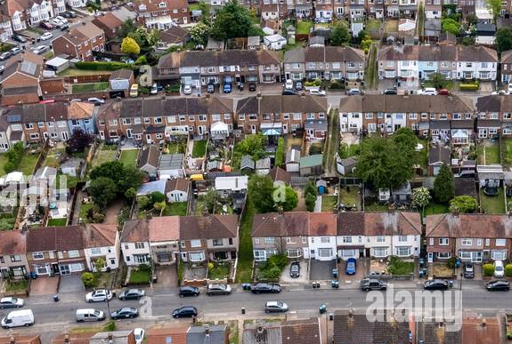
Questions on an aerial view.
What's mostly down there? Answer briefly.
buildings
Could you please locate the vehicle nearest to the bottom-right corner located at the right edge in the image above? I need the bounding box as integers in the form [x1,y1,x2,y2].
[485,279,511,292]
